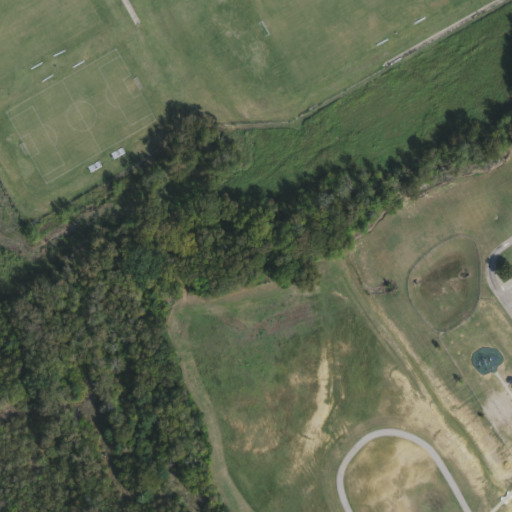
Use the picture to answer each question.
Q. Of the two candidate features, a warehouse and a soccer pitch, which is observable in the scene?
soccer pitch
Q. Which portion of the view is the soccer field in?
top left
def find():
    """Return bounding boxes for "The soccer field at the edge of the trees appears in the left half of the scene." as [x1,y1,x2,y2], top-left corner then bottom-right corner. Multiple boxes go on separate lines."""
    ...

[5,47,158,185]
